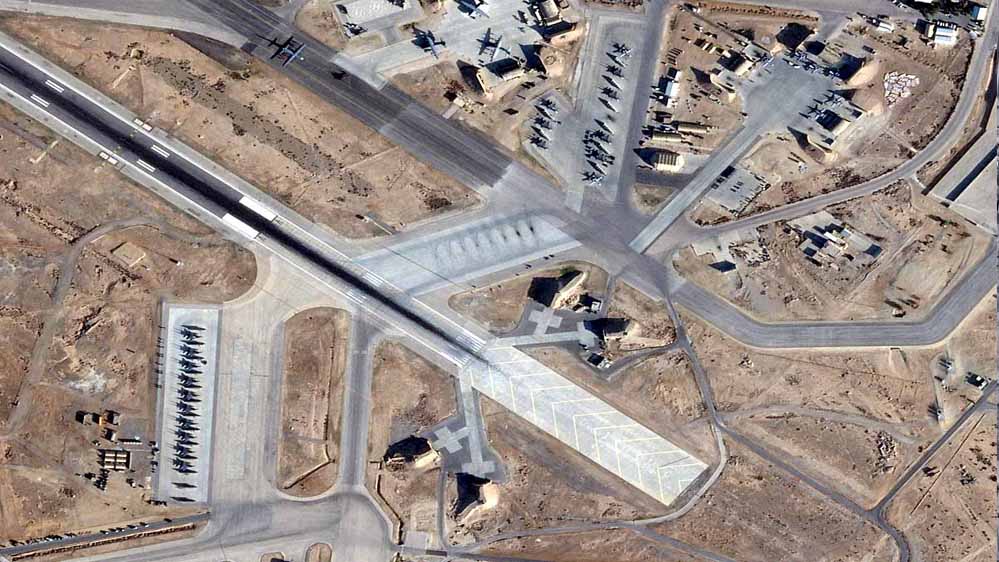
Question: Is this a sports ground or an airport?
airport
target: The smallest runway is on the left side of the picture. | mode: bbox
[253,217,489,374]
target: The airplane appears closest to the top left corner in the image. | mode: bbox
[281,43,302,68]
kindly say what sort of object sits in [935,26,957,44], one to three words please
building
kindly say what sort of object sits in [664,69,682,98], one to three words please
building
